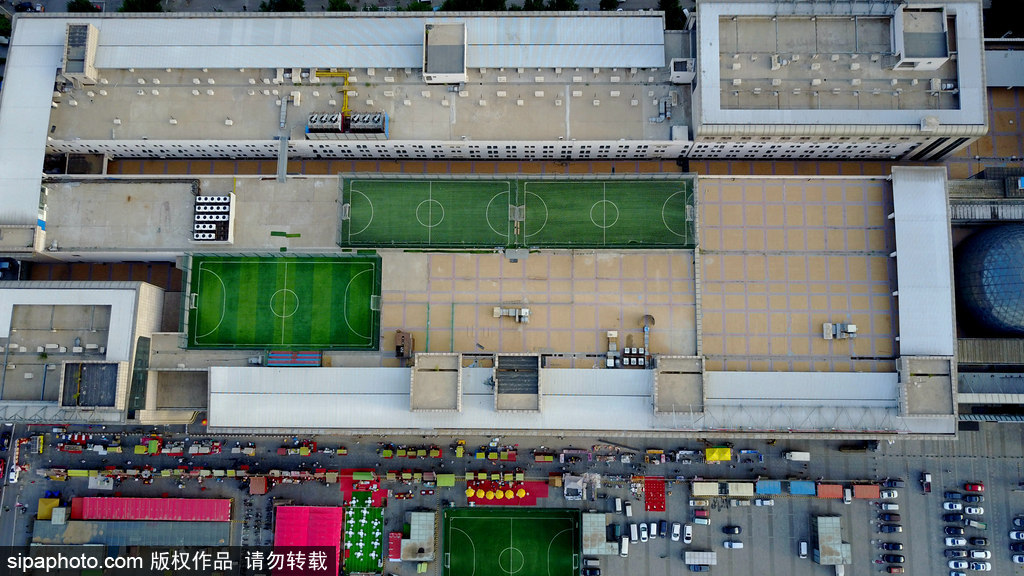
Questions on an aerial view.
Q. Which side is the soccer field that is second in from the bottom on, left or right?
left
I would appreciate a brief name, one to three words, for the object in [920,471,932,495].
vehicle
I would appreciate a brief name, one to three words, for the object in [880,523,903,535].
vehicle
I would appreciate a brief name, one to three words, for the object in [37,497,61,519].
tent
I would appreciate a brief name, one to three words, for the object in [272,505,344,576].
tent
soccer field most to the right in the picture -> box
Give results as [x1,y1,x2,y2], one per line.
[515,179,694,244]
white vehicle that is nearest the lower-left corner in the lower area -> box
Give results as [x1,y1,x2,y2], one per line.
[7,464,20,484]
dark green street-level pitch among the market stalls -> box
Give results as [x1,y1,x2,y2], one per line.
[444,510,580,576]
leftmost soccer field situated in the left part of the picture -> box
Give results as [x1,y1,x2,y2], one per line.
[187,256,377,348]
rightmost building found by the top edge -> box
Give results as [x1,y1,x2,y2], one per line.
[681,0,989,157]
